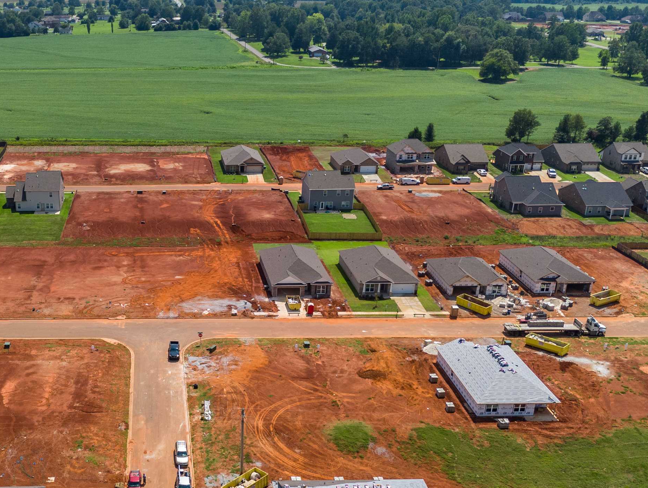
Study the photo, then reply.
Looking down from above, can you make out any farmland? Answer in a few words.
Yes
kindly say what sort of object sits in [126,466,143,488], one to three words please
car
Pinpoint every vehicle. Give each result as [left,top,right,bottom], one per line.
[126,466,143,488]
[518,306,545,322]
[450,176,471,184]
[476,169,491,176]
[499,313,601,335]
[376,181,395,188]
[545,169,559,177]
[175,466,193,488]
[399,177,418,185]
[167,341,181,358]
[173,438,190,463]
